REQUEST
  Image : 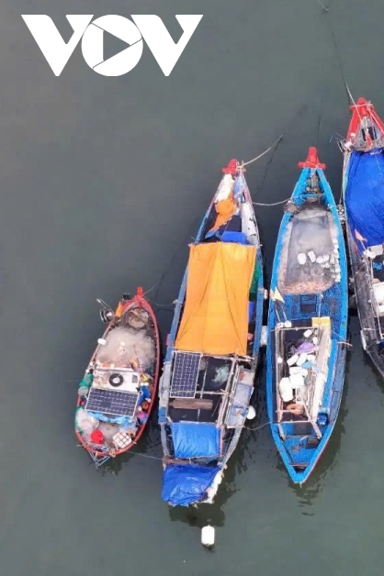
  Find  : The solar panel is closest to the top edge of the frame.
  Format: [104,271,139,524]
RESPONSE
[166,351,204,402]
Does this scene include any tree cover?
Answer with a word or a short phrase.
No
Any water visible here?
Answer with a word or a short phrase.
Yes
